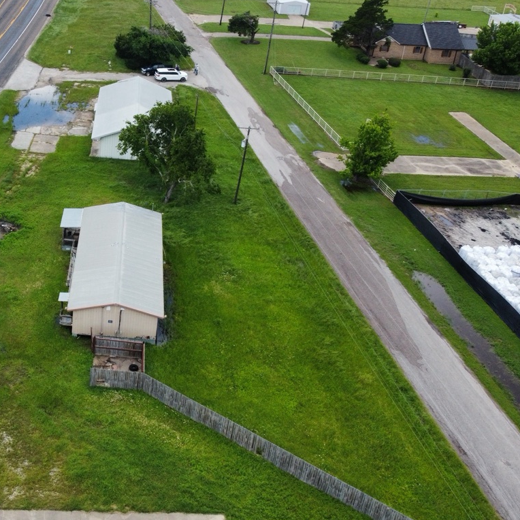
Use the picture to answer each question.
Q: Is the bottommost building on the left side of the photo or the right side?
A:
left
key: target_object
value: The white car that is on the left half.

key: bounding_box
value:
[154,65,189,81]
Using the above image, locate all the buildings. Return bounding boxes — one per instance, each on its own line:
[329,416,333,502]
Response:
[57,202,166,342]
[89,78,178,160]
[365,23,486,64]
[269,0,312,15]
[489,12,520,35]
